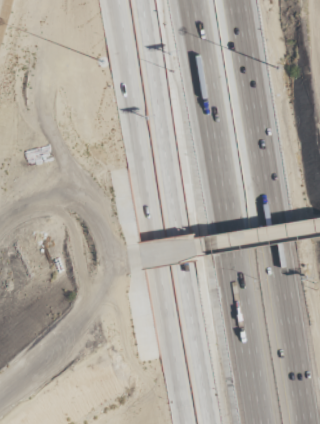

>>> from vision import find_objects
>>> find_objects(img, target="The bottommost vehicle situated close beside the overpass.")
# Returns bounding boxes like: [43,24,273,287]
[232,282,246,342]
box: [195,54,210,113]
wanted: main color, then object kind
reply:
white vehicle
